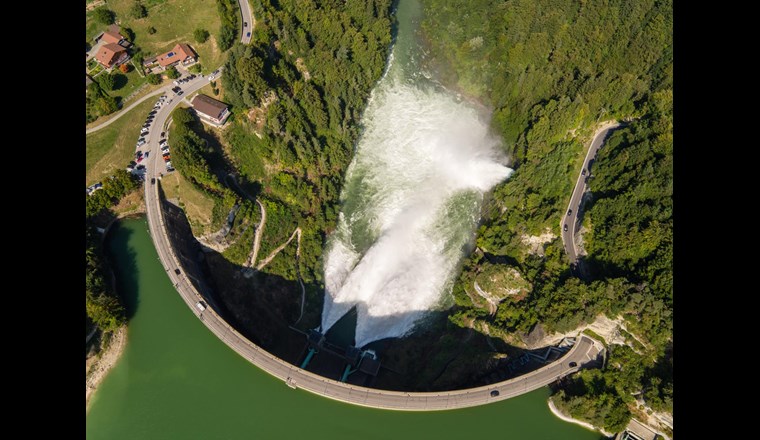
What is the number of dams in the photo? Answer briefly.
1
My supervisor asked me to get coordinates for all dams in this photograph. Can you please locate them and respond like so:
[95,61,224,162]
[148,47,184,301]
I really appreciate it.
[145,174,583,411]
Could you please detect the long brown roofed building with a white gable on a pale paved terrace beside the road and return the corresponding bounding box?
[194,94,233,128]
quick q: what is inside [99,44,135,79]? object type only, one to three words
house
